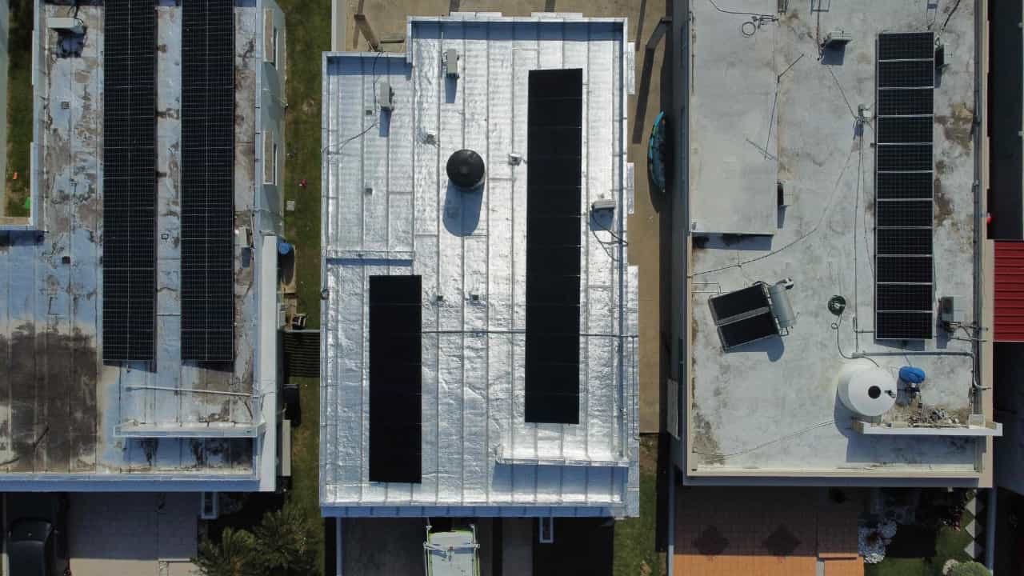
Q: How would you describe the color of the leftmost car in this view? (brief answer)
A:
black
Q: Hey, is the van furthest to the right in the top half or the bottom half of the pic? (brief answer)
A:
bottom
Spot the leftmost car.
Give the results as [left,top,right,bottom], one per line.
[5,498,72,576]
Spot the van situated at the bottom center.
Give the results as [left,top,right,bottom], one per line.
[424,516,485,576]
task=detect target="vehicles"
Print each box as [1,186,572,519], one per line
[424,516,485,576]
[5,498,72,576]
